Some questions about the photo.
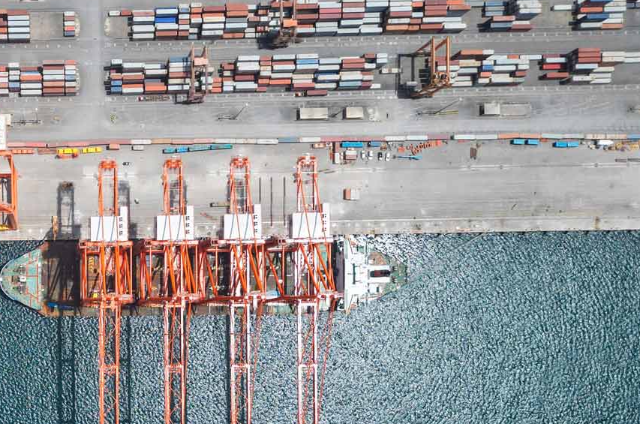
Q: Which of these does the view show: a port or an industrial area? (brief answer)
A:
port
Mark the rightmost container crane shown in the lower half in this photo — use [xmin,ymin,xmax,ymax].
[251,156,342,424]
